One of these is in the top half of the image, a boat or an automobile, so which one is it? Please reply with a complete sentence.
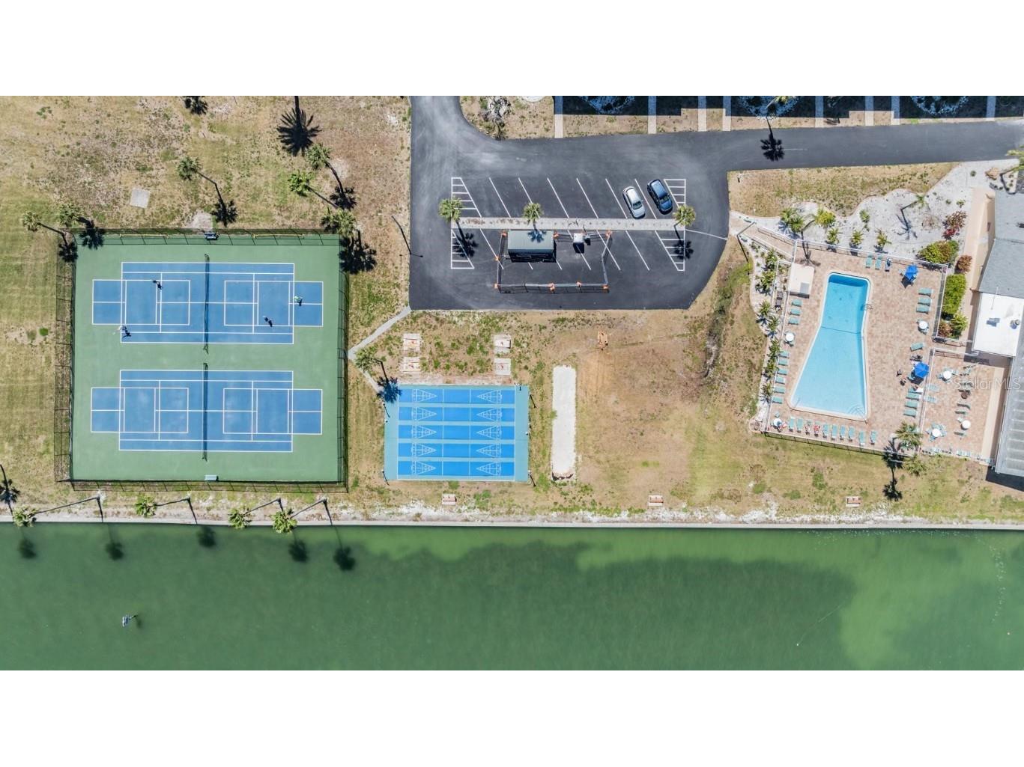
There is an automobile in the top half of the image.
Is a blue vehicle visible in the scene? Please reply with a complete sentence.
Yes, there's a blue vehicle down there.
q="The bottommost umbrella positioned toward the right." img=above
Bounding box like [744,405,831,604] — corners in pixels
[912,361,930,379]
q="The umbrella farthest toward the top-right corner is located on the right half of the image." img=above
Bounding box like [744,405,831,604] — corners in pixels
[901,263,919,282]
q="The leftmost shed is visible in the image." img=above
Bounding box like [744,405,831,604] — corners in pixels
[502,230,554,261]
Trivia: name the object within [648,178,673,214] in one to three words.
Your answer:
car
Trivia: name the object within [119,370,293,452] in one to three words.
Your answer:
tennis court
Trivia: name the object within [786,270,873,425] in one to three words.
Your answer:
swimming pool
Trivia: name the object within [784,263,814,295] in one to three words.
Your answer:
shed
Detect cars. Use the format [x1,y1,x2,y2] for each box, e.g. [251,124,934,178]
[648,178,673,214]
[624,184,647,218]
